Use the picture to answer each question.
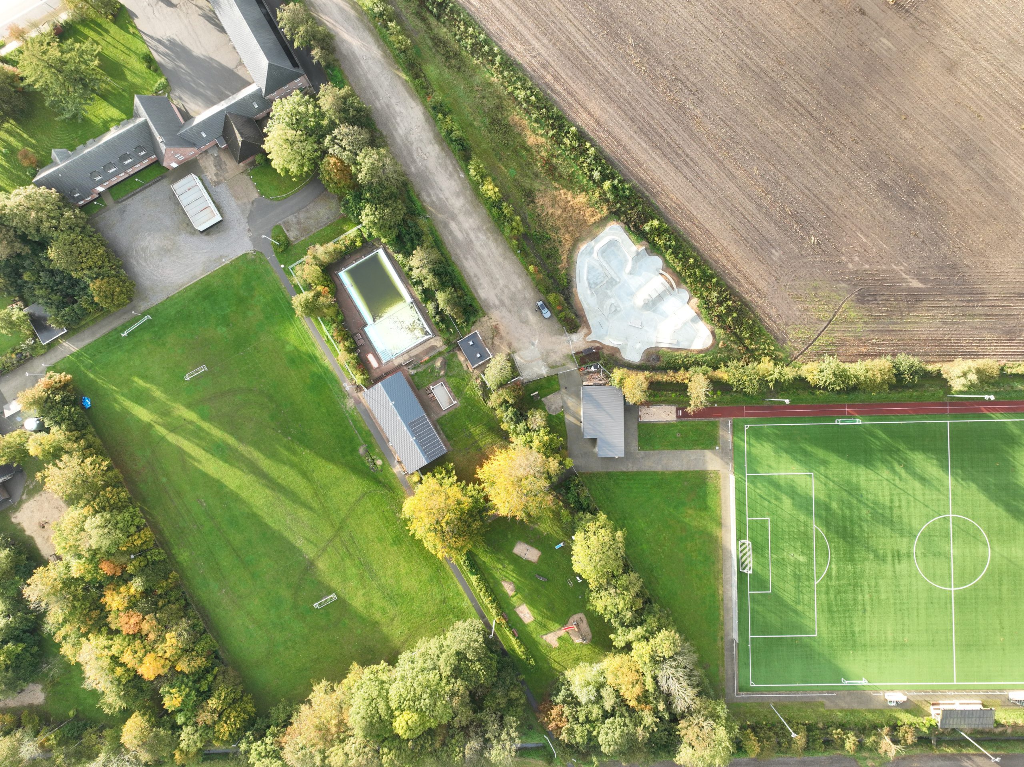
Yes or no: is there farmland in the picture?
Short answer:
Yes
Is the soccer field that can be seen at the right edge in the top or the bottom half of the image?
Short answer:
bottom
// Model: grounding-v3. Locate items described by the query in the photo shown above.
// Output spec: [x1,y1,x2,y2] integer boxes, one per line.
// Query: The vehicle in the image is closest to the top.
[536,299,550,318]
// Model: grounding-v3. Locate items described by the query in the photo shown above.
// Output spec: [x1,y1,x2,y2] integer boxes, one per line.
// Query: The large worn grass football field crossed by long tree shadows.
[68,255,474,695]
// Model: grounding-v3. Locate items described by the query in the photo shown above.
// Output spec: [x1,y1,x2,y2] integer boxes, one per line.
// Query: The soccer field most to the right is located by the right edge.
[733,413,1024,697]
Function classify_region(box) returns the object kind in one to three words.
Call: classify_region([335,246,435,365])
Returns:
swimming pool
